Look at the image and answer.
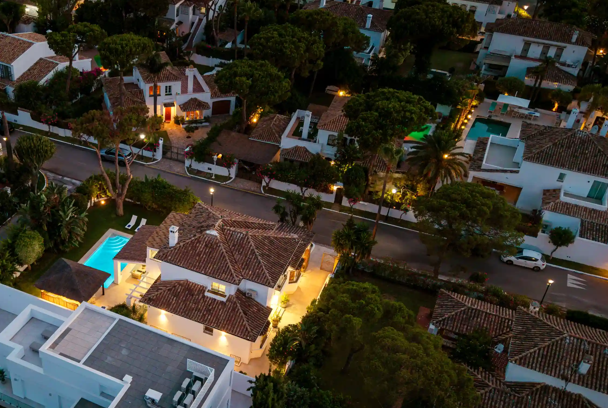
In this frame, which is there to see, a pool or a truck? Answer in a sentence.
This aerial view contains a pool.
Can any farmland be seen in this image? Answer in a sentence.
No, the scene doesn't show any farmland.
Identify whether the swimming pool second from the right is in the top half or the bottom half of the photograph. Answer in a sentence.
It is in the top half that the swimming pool second from the right appears.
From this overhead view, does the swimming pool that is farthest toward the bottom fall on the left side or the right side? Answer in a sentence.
The swimming pool that is farthest toward the bottom sits on the left side.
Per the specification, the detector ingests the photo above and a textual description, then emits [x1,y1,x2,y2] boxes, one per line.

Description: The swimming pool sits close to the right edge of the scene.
[460,98,600,142]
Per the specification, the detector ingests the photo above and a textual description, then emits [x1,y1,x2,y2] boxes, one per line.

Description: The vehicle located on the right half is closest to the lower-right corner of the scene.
[498,252,546,277]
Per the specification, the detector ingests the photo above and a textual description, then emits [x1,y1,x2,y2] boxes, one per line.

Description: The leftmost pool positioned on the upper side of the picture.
[399,123,437,146]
